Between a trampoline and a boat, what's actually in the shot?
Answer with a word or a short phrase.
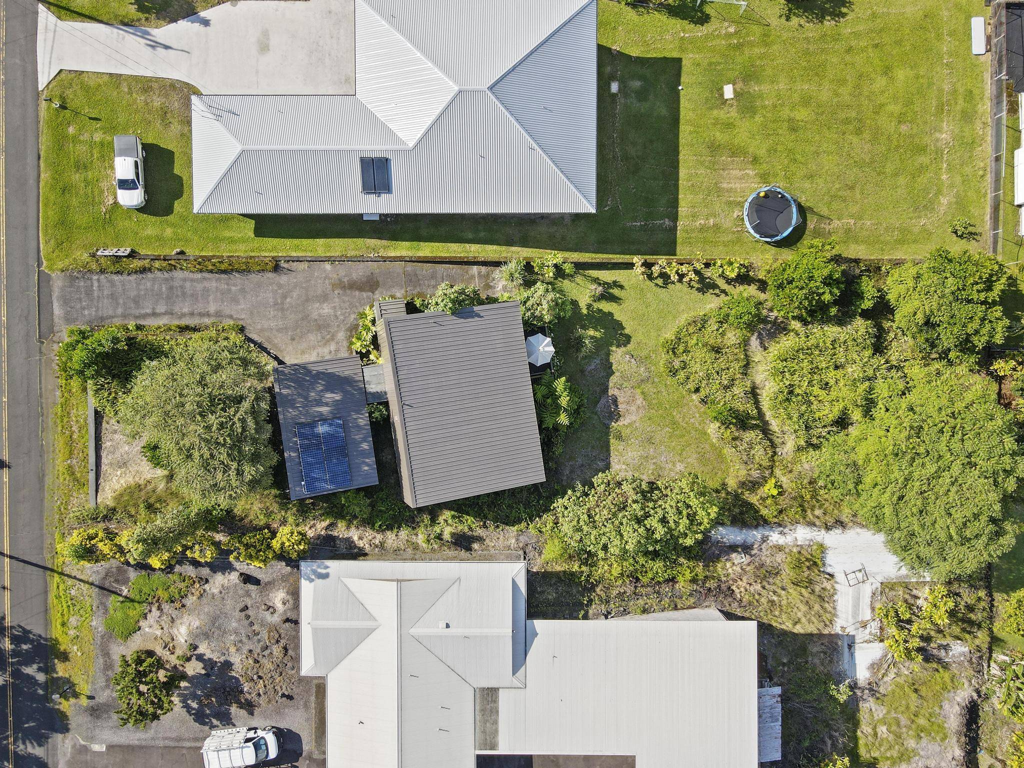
trampoline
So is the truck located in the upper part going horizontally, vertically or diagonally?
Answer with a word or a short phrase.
vertically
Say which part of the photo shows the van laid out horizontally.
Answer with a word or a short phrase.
bottom left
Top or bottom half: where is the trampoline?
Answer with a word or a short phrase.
top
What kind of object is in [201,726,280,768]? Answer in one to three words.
van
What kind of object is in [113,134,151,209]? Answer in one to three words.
truck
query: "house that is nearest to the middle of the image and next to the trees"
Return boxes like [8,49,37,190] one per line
[374,298,545,508]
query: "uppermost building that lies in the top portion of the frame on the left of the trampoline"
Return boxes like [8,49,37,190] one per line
[191,0,598,216]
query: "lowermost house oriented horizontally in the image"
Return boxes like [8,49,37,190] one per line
[299,560,760,768]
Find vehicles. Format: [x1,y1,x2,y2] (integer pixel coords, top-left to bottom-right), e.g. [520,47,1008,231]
[201,726,280,768]
[113,134,151,209]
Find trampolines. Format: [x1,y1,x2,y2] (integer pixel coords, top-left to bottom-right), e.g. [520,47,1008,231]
[743,179,808,242]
